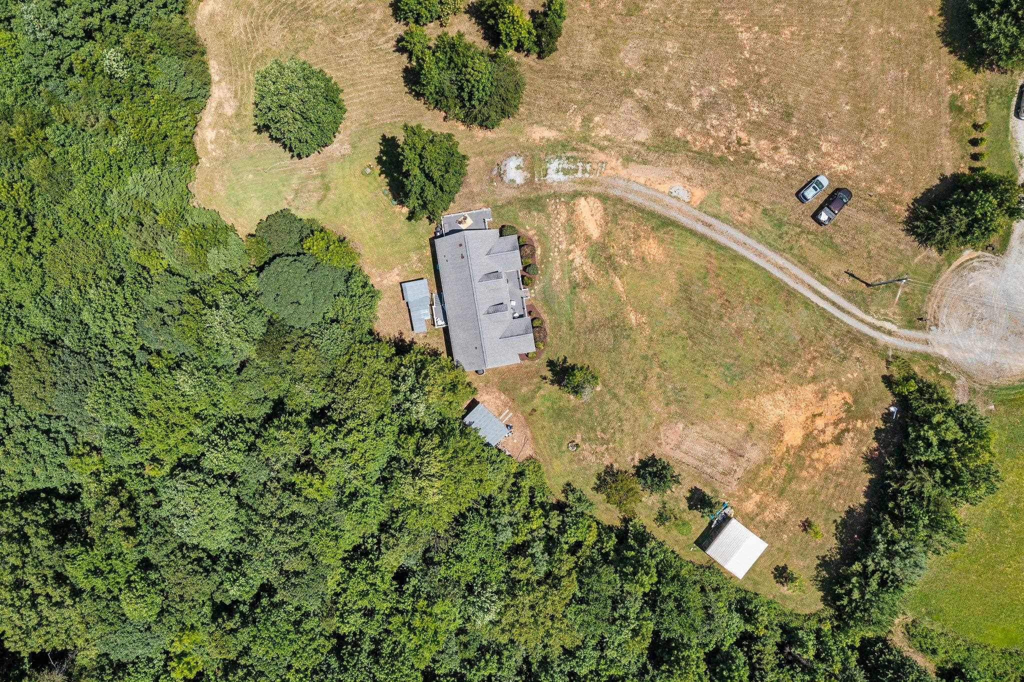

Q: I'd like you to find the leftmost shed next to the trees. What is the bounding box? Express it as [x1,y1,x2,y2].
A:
[401,279,430,332]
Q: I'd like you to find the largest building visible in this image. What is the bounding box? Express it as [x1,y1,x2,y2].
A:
[431,207,536,373]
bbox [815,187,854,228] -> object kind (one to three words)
truck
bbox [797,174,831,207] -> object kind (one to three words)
car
